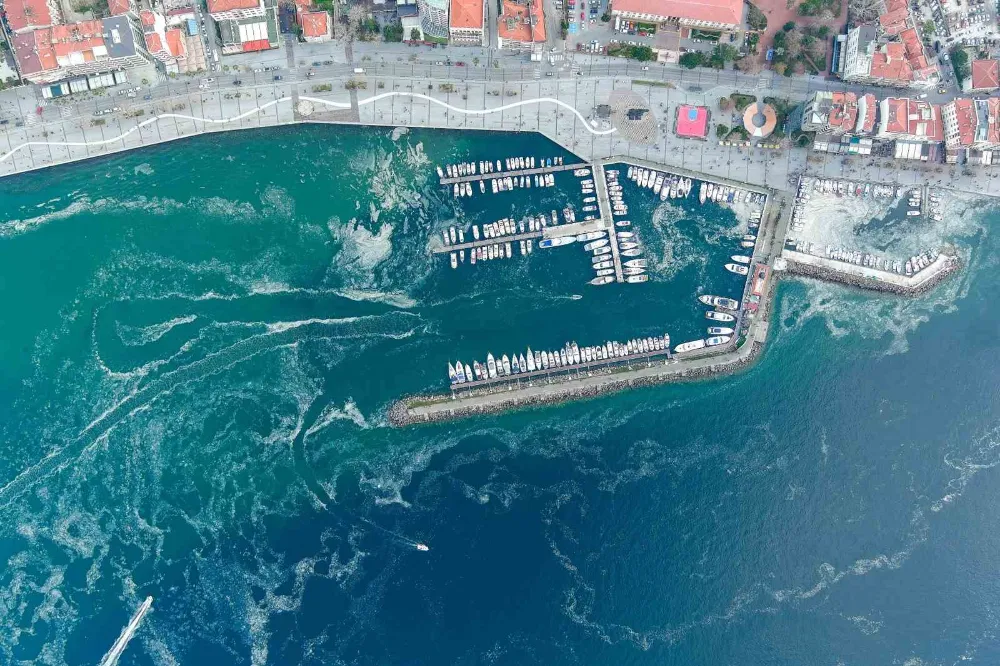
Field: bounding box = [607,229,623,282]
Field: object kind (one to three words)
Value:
pier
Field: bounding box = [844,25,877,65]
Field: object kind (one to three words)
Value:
building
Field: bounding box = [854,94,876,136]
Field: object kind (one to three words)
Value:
house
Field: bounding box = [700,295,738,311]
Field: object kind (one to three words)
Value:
boat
